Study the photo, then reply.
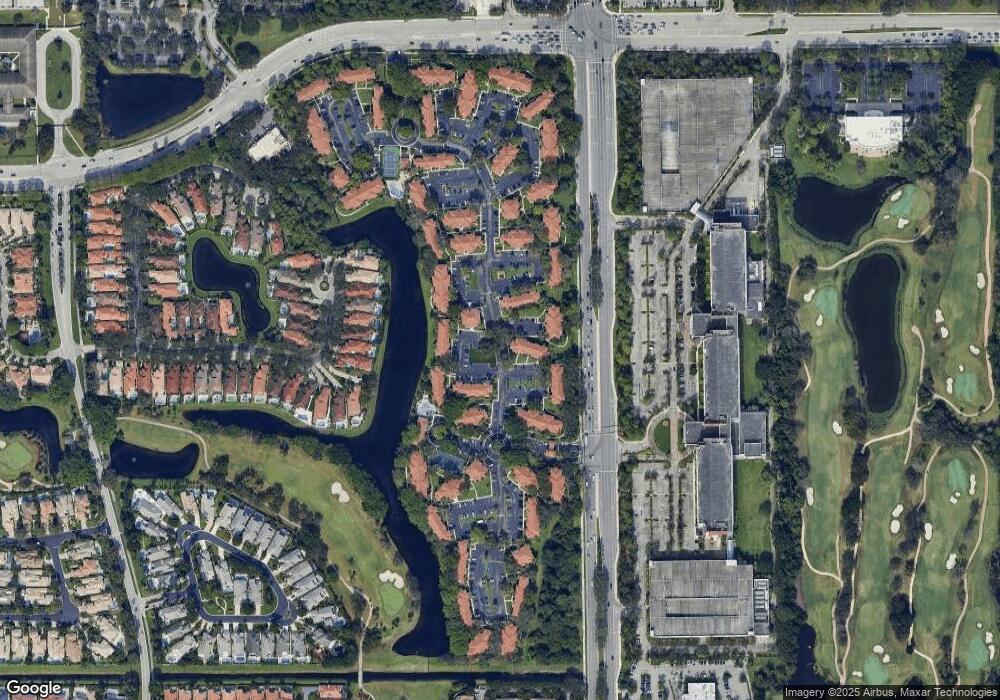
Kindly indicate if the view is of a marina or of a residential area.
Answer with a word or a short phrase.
residential area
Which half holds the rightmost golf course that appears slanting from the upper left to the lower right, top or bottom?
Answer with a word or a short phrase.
bottom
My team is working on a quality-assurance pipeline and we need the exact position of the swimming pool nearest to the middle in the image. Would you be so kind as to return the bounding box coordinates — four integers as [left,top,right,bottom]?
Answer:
[417,395,436,415]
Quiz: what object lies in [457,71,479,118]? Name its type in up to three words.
building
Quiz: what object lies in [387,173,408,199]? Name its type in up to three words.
swimming pool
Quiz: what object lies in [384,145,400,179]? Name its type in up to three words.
tennis court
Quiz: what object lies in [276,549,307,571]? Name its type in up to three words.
house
